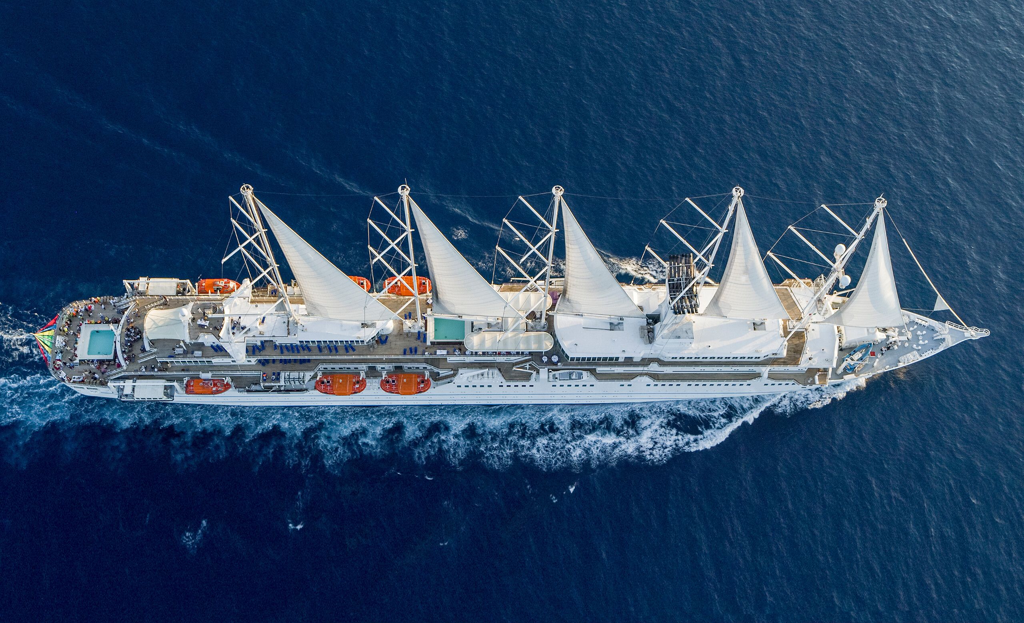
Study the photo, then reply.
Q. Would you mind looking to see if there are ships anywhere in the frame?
Yes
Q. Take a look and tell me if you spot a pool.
Yes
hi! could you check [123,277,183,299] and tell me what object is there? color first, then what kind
white boat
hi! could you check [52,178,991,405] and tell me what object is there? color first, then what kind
white ship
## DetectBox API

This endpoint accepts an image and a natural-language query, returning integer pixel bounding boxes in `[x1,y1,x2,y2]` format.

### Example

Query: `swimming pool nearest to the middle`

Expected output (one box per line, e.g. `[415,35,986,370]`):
[425,308,485,349]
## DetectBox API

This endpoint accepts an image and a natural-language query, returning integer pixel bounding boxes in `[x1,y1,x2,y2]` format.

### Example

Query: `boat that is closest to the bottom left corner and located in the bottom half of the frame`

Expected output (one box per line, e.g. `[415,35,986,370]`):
[115,377,179,404]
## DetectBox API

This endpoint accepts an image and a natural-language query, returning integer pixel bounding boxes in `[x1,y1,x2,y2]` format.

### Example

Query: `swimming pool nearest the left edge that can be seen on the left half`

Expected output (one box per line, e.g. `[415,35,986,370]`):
[80,324,118,370]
